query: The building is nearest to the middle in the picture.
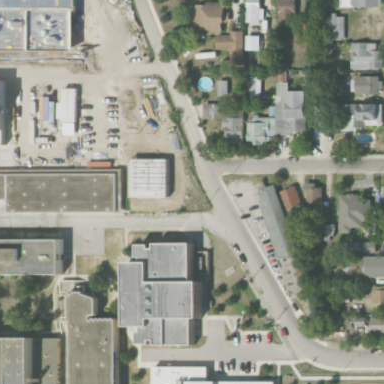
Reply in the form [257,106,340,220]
[128,159,170,197]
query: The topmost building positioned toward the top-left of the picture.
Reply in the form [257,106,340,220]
[0,0,78,50]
